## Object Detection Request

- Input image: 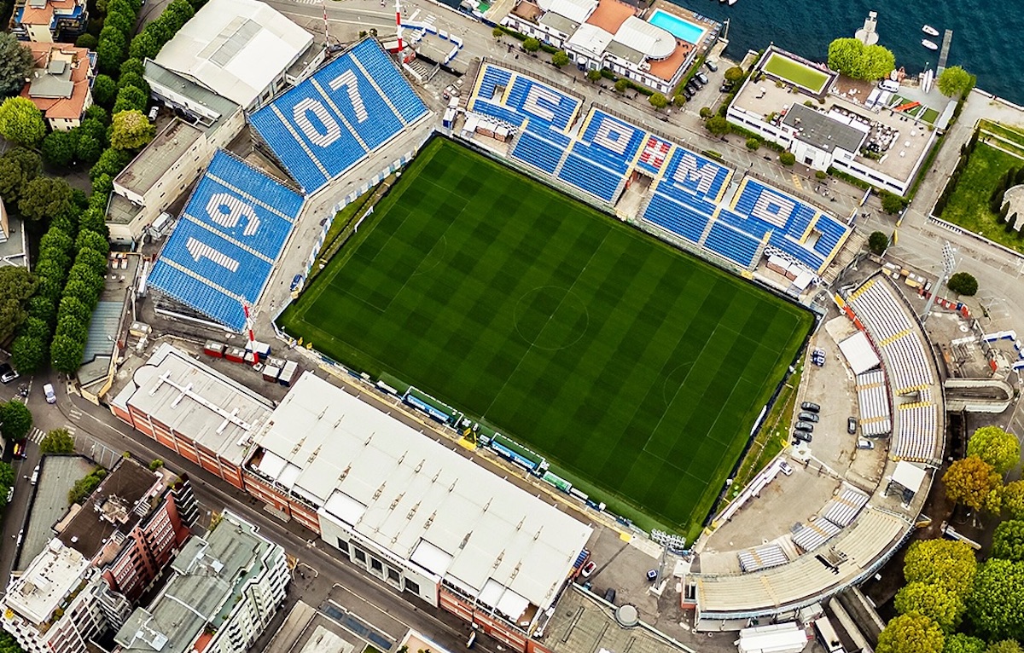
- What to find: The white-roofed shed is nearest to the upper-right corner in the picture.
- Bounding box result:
[936,100,958,134]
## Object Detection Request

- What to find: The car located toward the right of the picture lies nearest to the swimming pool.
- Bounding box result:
[704,57,720,71]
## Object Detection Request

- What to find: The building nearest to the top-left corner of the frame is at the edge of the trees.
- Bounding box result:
[15,0,91,46]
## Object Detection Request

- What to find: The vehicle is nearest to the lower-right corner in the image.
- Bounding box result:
[812,611,849,653]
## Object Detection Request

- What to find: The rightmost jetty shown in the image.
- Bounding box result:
[937,27,953,77]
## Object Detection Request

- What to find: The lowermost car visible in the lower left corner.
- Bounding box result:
[13,526,26,546]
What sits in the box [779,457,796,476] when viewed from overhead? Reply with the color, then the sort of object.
white car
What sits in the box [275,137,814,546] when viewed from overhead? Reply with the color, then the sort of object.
green soccer field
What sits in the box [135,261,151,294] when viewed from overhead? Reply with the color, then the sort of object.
white vehicle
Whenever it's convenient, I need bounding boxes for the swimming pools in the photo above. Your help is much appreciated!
[648,0,721,54]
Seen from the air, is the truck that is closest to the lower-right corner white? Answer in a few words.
Yes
